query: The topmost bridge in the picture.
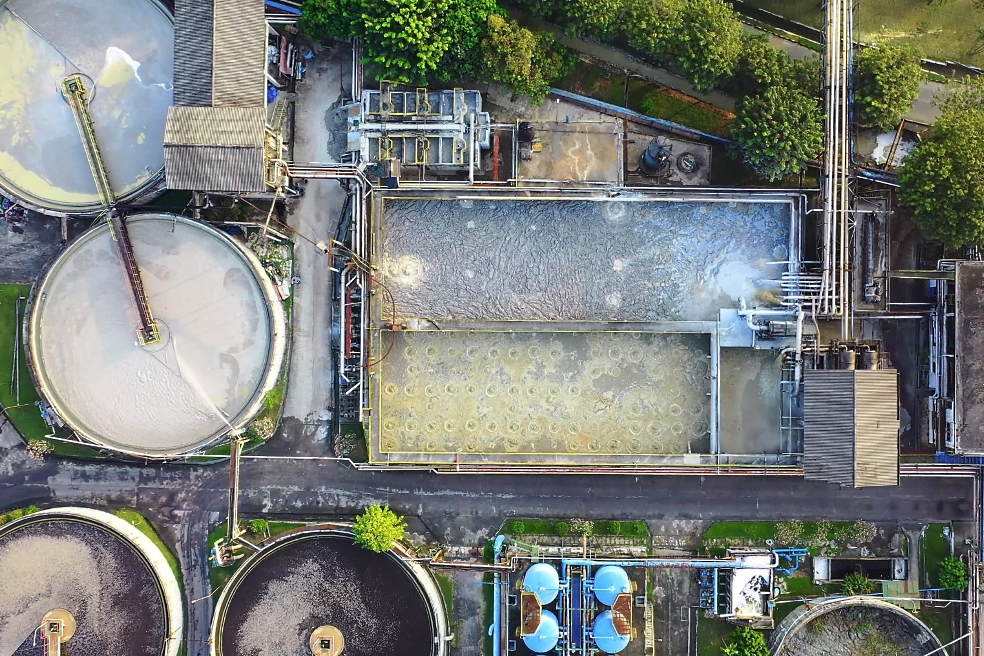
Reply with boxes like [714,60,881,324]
[57,71,118,207]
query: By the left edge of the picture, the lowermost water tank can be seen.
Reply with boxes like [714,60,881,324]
[0,505,184,656]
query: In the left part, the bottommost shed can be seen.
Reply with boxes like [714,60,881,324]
[160,108,273,202]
